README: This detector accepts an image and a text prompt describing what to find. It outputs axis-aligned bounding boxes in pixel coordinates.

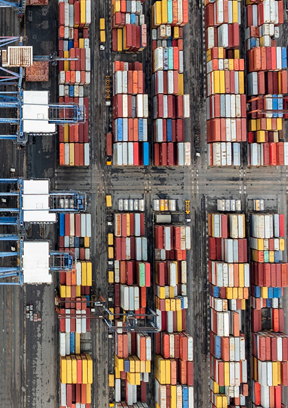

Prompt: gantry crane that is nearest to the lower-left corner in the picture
[55,292,108,320]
